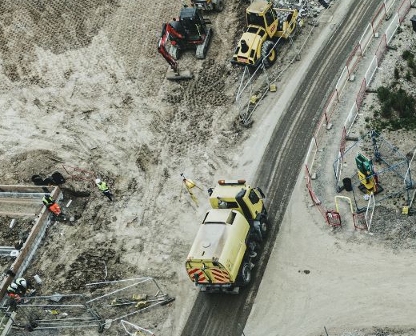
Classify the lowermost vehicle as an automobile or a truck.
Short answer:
truck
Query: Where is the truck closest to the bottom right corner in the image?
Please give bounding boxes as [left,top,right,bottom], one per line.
[183,176,270,303]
